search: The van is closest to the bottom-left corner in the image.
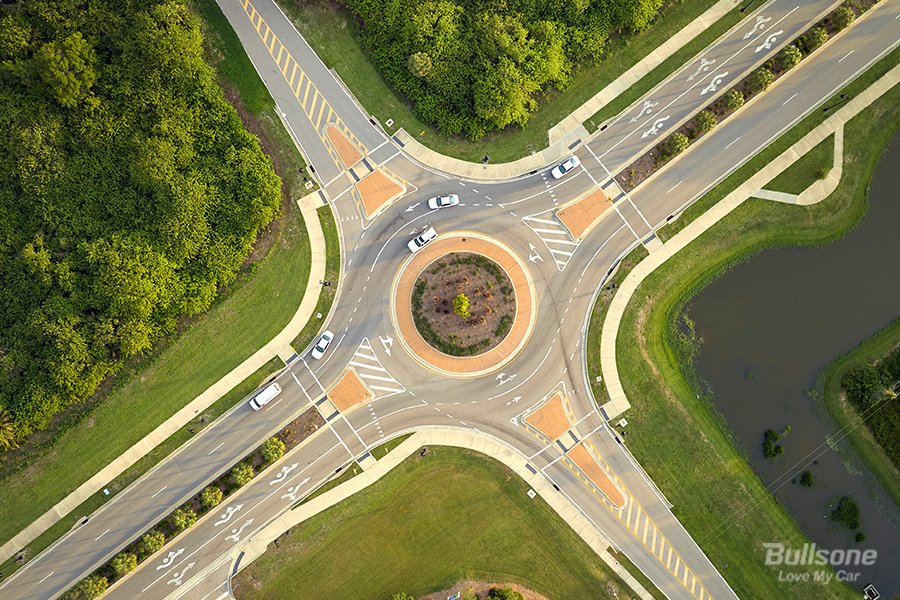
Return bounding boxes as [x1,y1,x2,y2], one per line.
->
[249,381,283,412]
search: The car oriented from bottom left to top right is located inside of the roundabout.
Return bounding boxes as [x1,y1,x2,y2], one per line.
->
[407,227,438,252]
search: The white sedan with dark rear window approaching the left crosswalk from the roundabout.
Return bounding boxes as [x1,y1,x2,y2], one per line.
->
[310,329,335,360]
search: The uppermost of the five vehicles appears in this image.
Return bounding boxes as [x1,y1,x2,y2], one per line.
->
[550,154,582,180]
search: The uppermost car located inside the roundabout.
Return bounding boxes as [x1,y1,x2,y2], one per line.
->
[427,193,460,209]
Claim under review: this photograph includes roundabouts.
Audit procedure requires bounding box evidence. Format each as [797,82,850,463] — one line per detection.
[344,184,584,424]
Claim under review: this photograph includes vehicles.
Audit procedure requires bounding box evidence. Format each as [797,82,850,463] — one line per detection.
[249,381,283,412]
[310,329,335,360]
[407,227,438,252]
[550,154,582,180]
[427,193,460,209]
